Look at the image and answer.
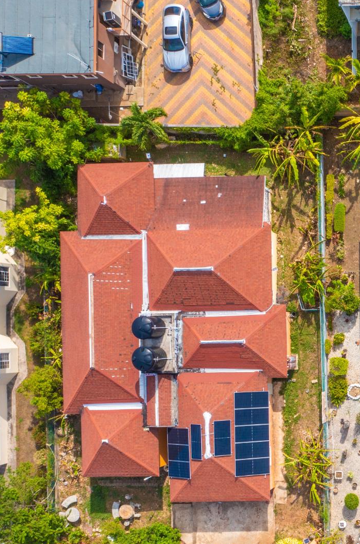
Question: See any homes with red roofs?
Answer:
Yes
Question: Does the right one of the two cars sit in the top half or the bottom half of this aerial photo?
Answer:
top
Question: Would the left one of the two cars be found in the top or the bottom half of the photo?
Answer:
top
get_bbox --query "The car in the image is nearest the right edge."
[198,0,234,23]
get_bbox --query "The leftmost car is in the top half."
[157,0,196,74]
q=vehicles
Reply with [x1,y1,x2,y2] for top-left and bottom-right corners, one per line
[198,0,234,23]
[157,0,196,74]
